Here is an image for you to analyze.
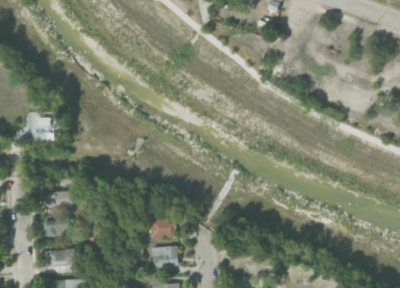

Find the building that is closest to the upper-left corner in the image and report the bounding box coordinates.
[28,112,54,141]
